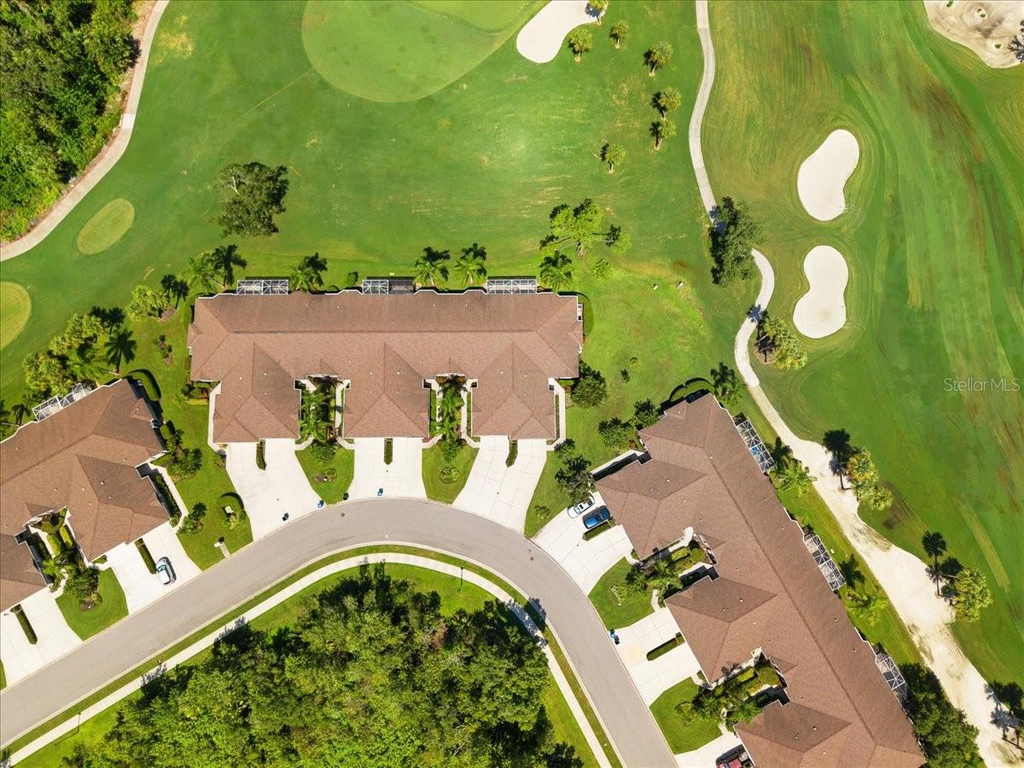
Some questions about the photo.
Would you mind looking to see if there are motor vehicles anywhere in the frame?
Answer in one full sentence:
Yes, a motor vehicle can be made out from above.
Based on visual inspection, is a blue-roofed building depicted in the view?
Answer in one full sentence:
No, there is no blue-roofed building in the image.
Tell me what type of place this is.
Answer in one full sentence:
This image shows a golf course.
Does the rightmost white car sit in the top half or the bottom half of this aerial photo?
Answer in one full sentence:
The bottom half of the photo is where the rightmost white car is.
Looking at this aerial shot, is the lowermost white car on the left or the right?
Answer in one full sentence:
It is on the left.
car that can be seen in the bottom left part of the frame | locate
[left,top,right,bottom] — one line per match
[155,556,175,586]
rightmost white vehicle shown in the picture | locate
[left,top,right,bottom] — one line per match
[567,493,597,517]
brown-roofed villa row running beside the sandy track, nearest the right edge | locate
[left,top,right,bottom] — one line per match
[594,390,926,768]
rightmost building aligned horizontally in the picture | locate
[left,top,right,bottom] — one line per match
[188,290,586,444]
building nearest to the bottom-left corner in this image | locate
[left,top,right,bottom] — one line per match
[0,379,172,617]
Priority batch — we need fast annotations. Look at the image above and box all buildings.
[0,379,172,617]
[594,390,926,768]
[188,290,586,444]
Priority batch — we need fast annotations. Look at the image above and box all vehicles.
[720,752,750,768]
[582,506,611,530]
[567,493,597,517]
[155,556,175,586]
